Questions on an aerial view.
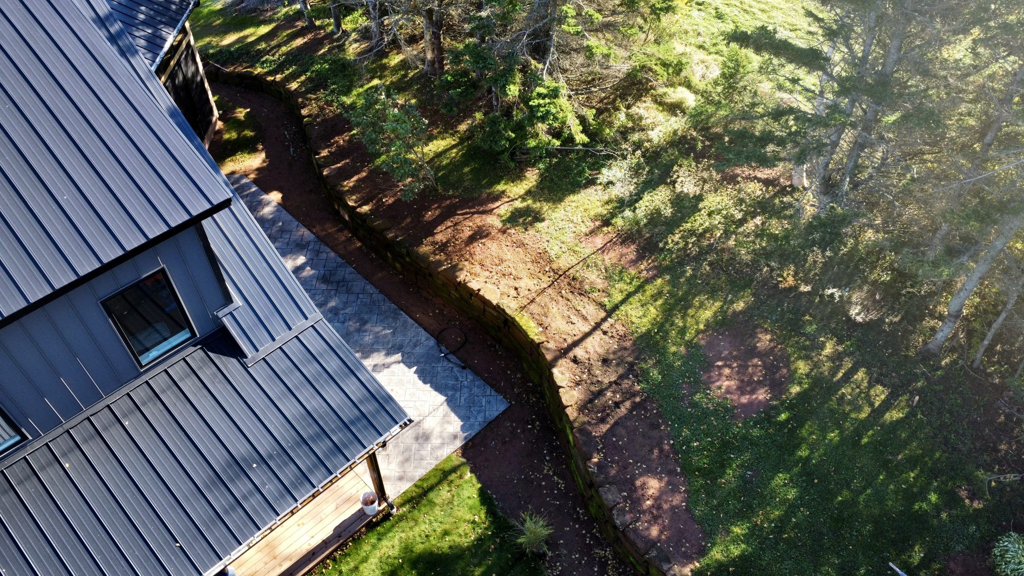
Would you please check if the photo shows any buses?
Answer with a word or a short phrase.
No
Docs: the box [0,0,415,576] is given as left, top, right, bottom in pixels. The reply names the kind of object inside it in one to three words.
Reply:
house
